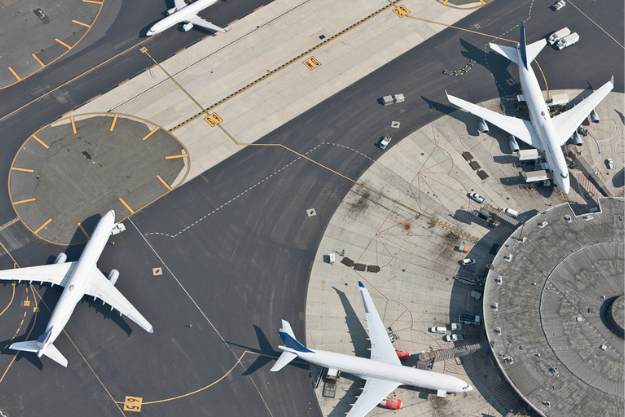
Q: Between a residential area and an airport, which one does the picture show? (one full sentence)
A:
The picture captures an airport.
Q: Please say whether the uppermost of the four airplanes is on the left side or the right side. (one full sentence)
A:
The uppermost of the four airplanes appears in the left half of the scene.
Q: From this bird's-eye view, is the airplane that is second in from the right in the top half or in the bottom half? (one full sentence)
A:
It is in the bottom half that the airplane that is second in from the right appears.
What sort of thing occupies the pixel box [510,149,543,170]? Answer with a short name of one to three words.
vehicle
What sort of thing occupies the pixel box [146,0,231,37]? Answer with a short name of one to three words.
airplane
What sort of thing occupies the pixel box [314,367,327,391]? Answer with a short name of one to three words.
vehicle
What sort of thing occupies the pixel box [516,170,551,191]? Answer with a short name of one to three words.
truck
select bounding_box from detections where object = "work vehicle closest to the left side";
[112,222,128,236]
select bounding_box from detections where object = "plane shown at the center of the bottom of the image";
[272,280,470,417]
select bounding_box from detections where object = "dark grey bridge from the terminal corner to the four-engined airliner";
[562,145,617,197]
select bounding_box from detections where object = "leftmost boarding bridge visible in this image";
[414,341,488,372]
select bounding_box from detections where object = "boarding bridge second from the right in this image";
[482,201,525,233]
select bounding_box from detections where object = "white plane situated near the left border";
[0,212,154,366]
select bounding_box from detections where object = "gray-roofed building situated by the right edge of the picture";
[483,197,625,417]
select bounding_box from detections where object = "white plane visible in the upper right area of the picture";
[446,23,616,197]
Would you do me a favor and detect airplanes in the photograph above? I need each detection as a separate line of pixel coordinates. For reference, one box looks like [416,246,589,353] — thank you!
[146,0,231,37]
[0,212,154,366]
[272,280,470,417]
[446,23,616,197]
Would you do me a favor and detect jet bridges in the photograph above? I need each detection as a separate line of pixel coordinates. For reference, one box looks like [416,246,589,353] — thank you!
[482,201,525,233]
[414,341,488,372]
[562,145,617,197]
